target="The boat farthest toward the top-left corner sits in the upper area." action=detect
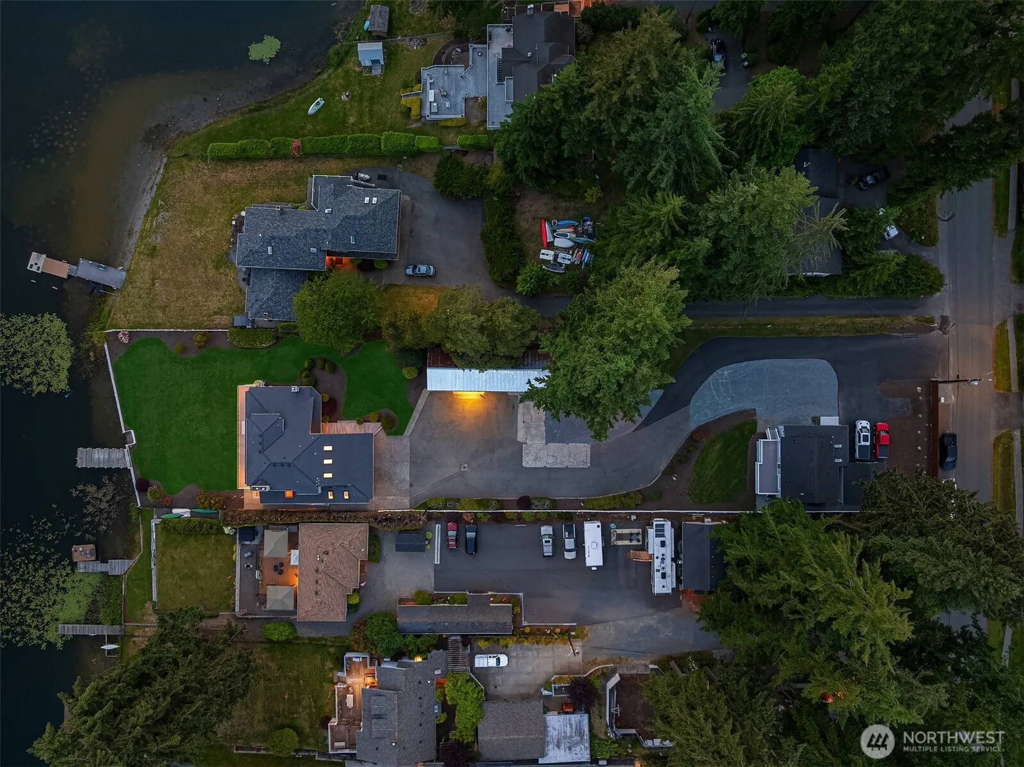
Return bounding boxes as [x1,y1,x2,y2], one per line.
[307,98,324,117]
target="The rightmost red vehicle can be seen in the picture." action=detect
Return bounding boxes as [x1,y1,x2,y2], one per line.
[873,423,892,460]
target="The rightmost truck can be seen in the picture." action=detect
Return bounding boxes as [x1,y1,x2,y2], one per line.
[939,433,960,471]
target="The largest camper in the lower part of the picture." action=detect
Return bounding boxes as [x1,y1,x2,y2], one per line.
[646,514,675,594]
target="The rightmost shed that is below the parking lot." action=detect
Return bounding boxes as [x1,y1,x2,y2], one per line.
[542,710,589,762]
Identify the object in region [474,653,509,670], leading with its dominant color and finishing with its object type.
white vehicle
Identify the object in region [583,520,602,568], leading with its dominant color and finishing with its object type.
white trailer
